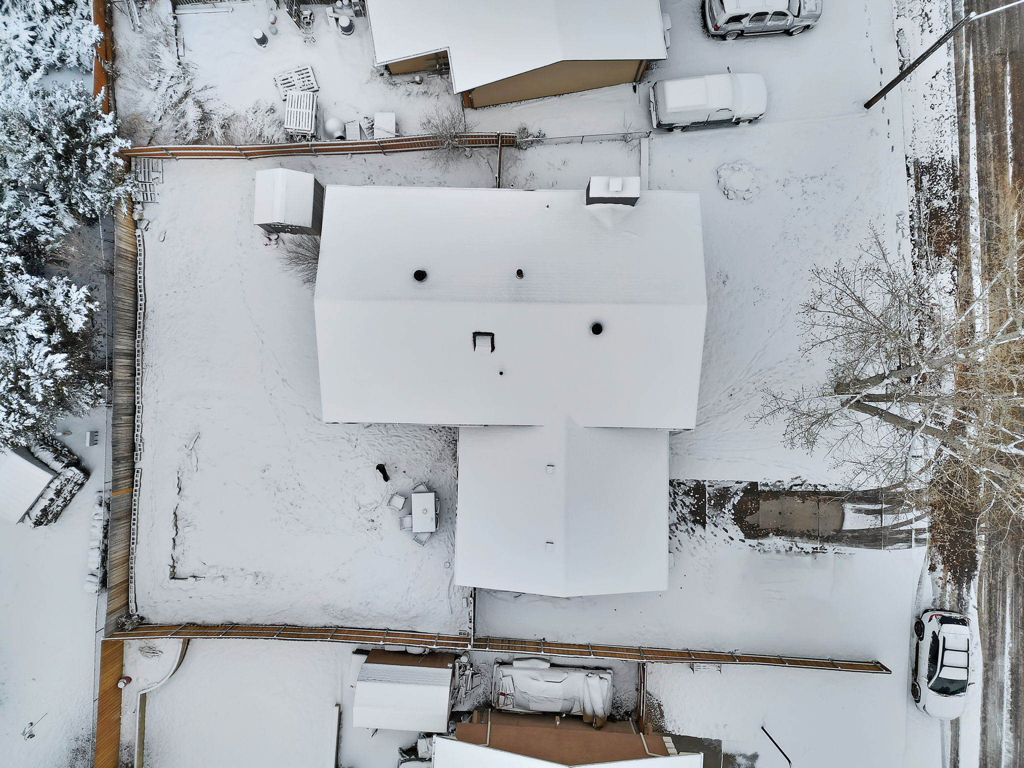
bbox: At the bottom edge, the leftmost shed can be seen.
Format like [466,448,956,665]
[353,646,454,734]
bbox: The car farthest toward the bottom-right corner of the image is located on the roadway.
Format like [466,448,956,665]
[911,603,977,717]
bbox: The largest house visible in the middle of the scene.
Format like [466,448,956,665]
[313,174,708,596]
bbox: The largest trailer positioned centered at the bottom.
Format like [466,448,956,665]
[490,658,615,727]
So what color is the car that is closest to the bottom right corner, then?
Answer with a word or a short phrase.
white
